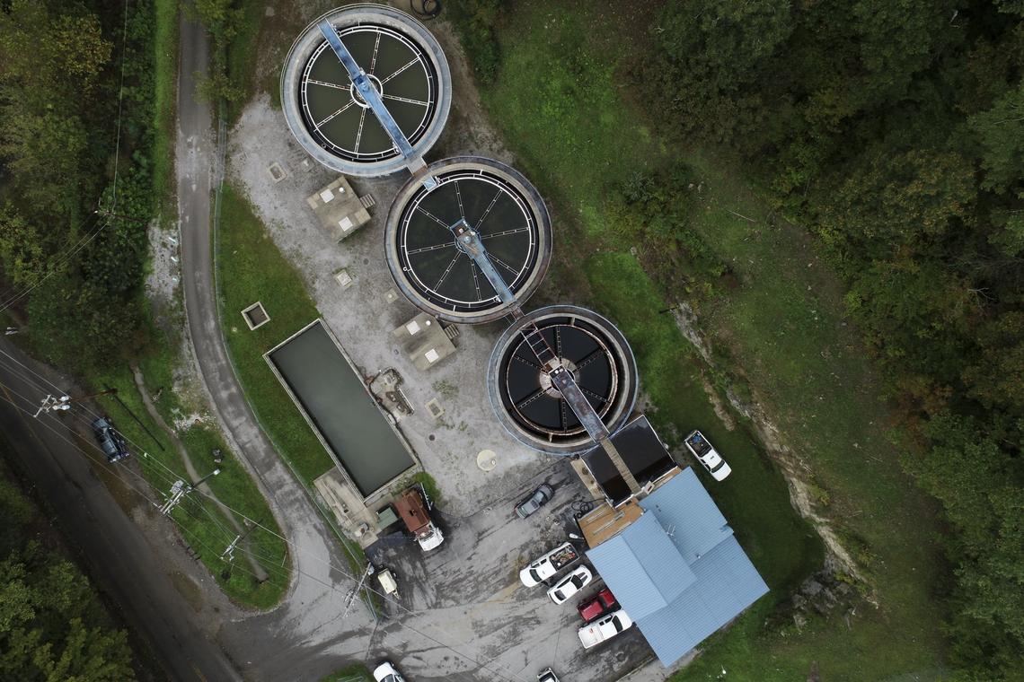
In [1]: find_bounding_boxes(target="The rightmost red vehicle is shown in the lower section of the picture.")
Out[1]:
[577,584,619,623]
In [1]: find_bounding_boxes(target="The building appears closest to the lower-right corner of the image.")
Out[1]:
[584,466,770,668]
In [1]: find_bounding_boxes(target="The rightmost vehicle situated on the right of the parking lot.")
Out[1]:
[679,425,733,483]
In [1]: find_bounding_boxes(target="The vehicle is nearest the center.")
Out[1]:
[511,480,557,523]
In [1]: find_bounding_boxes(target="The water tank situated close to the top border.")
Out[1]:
[278,0,453,177]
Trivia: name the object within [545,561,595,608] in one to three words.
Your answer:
car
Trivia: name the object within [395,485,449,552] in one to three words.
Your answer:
truck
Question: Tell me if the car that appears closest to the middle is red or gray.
gray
